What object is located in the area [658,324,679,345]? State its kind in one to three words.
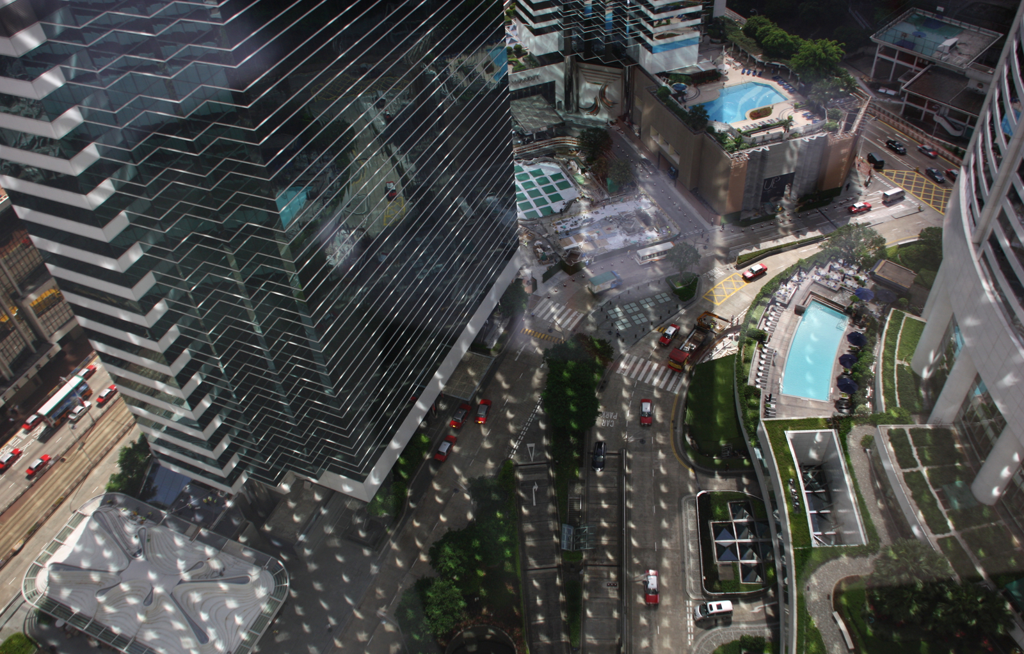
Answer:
car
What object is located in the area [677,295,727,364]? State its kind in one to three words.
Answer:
truck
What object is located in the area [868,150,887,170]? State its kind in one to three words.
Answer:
vehicle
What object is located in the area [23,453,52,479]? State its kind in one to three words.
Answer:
car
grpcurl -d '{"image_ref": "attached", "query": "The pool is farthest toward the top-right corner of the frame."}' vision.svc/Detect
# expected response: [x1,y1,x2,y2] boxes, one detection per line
[688,81,789,122]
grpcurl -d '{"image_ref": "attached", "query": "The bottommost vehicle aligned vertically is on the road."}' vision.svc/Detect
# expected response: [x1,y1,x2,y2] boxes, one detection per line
[644,569,661,607]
